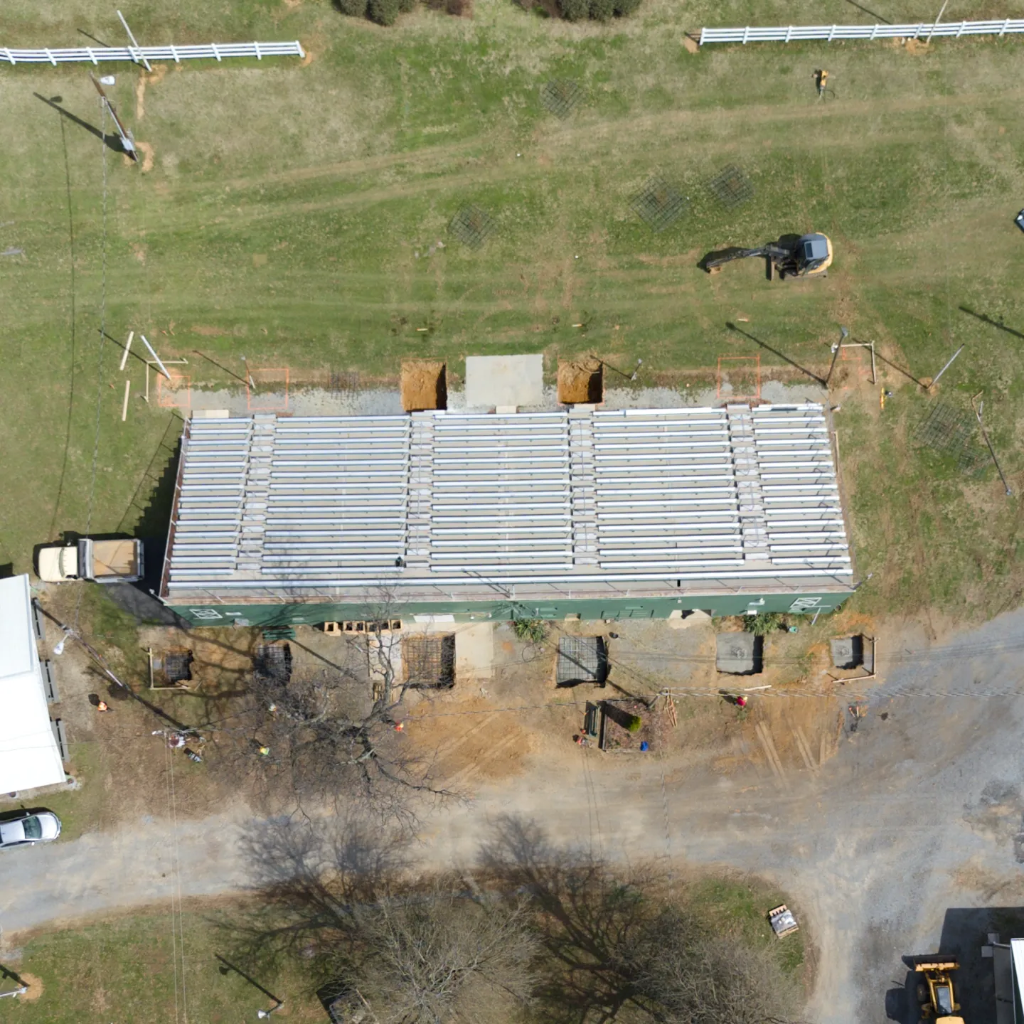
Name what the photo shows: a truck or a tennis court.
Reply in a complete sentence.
Visible in the photo is a truck.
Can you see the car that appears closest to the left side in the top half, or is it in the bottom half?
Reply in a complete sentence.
The bottom half of the photo is where the car that appears closest to the left side is.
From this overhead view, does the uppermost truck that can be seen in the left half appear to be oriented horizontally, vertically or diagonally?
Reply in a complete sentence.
In this picture, the uppermost truck that can be seen in the left half lies horizontally.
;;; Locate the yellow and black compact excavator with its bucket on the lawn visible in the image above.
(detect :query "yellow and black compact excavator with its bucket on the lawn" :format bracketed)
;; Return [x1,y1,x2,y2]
[707,227,833,278]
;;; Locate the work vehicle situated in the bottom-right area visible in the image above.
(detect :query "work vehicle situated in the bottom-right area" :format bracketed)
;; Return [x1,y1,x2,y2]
[918,956,967,1024]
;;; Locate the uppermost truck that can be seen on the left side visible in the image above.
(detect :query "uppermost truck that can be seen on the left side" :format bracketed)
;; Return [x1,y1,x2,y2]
[39,535,147,585]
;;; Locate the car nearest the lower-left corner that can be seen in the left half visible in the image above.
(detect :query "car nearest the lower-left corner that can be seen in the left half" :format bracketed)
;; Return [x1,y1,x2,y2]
[0,809,63,852]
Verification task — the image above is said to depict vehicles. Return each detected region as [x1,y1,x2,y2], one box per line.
[707,227,833,278]
[0,809,63,852]
[918,956,967,1024]
[39,535,147,585]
